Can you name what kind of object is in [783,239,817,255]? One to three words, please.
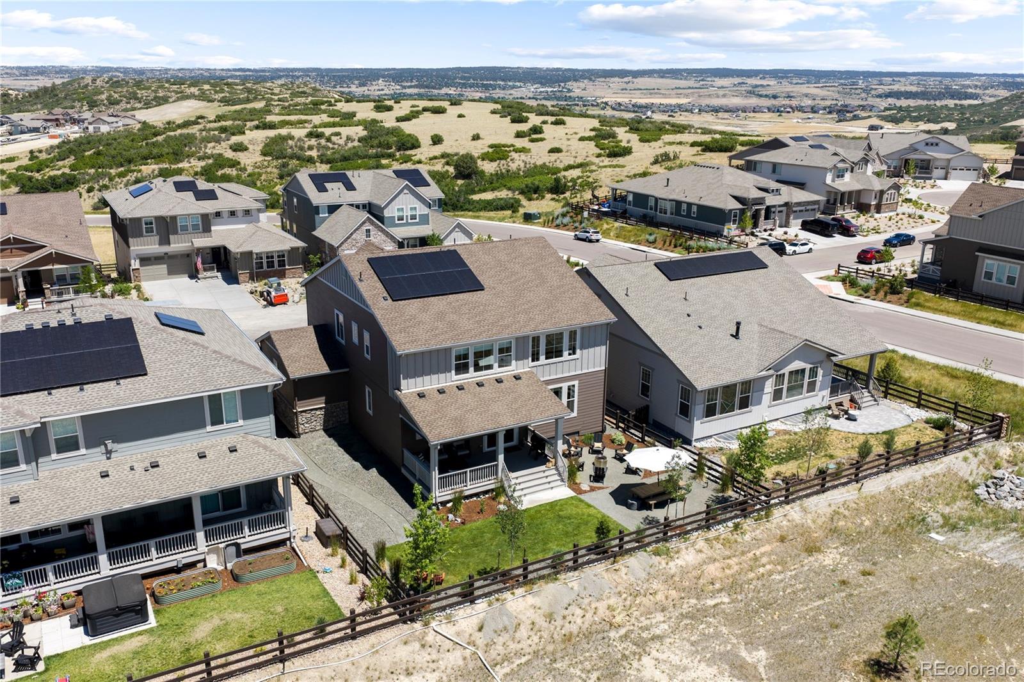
car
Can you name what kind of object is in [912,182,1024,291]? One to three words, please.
house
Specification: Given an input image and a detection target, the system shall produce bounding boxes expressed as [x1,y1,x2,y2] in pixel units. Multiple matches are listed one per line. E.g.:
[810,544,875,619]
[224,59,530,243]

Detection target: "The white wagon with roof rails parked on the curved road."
[572,225,608,242]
